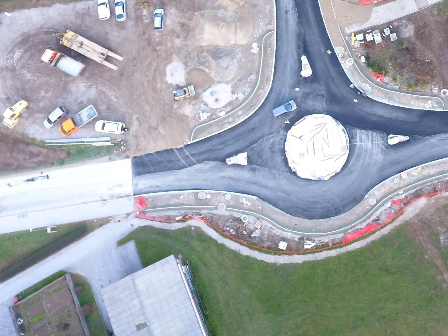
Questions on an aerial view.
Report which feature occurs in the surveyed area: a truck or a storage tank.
truck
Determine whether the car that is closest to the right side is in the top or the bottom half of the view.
top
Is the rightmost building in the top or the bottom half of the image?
bottom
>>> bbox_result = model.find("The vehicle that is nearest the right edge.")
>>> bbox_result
[271,99,298,119]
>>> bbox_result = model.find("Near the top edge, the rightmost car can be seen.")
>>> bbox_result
[151,9,166,31]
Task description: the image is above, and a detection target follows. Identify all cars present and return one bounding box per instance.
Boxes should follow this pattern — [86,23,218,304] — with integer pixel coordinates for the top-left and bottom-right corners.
[95,119,125,136]
[95,0,112,21]
[271,99,298,119]
[151,9,166,31]
[41,105,69,131]
[112,0,128,22]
